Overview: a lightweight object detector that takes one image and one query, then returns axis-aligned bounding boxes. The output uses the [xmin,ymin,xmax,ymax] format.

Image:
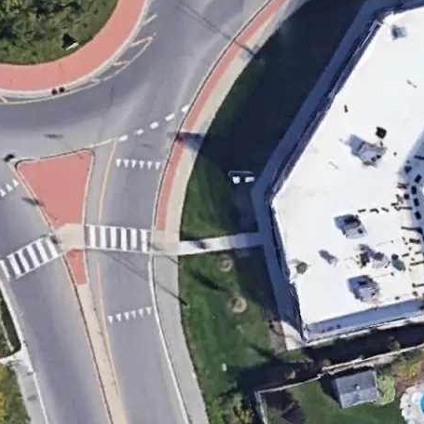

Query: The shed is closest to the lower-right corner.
[333,367,381,408]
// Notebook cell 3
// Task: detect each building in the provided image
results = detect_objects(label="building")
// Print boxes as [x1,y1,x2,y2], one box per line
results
[333,367,381,408]
[263,0,424,341]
